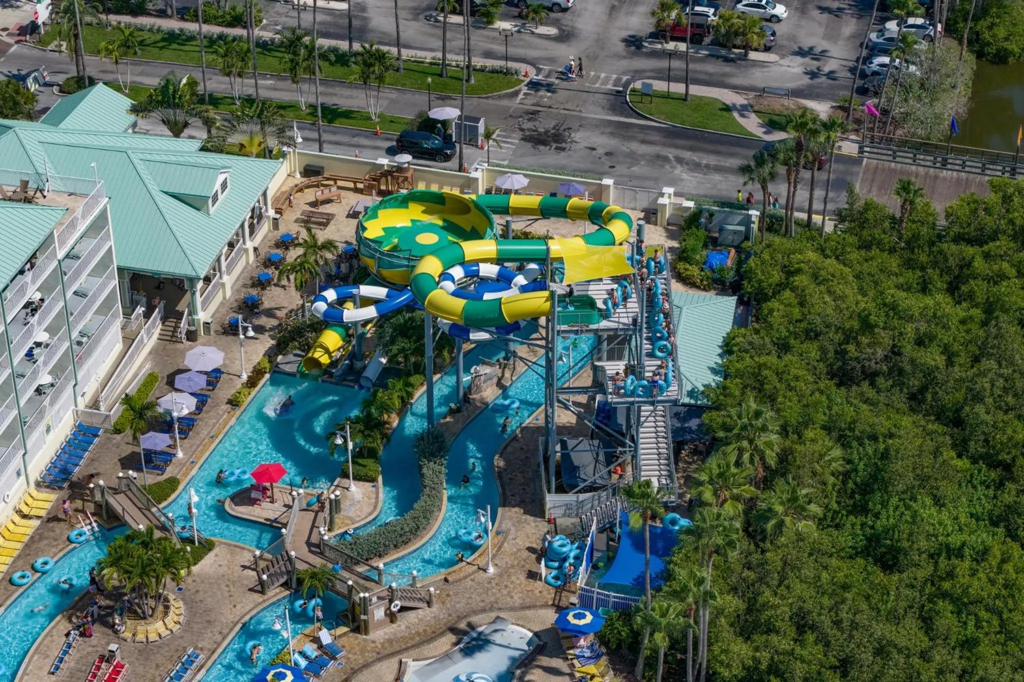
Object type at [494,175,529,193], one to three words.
umbrella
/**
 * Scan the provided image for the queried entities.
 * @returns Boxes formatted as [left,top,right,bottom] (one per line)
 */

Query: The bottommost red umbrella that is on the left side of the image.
[250,463,291,508]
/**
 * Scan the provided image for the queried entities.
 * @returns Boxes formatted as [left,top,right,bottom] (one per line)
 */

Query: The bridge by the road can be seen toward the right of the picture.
[844,119,1024,249]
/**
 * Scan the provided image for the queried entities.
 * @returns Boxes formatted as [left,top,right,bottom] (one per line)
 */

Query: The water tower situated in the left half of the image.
[390,153,412,197]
